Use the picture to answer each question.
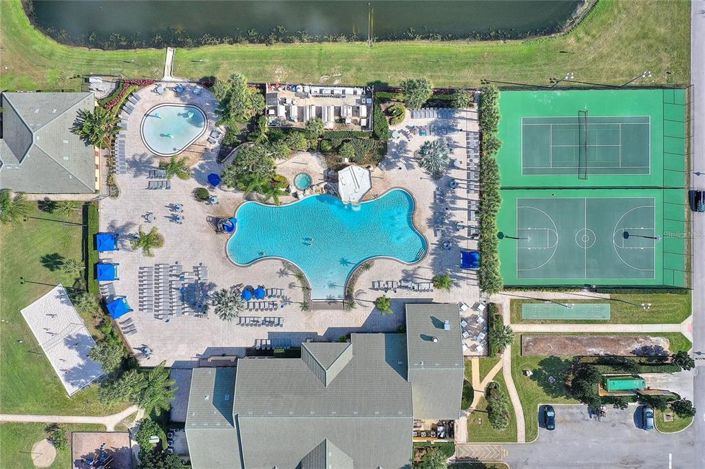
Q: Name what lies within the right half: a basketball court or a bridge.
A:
basketball court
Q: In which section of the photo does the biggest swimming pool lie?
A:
center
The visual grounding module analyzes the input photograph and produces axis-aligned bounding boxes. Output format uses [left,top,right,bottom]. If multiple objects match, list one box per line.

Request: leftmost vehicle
[545,404,558,430]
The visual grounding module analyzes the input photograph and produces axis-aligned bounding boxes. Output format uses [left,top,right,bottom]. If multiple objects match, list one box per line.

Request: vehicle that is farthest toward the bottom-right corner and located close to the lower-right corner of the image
[642,406,655,430]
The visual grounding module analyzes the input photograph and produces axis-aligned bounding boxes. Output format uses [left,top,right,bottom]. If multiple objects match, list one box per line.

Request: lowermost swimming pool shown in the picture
[224,186,430,302]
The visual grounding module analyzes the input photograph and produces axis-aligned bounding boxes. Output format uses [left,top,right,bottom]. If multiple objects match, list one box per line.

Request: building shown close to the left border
[0,92,103,192]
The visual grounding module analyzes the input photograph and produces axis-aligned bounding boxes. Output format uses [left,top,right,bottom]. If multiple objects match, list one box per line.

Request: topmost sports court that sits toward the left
[19,283,106,399]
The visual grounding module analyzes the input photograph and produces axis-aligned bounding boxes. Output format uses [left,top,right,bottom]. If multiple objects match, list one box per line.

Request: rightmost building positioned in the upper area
[335,163,373,204]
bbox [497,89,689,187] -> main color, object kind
green tennis court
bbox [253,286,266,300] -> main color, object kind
blue umbrella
